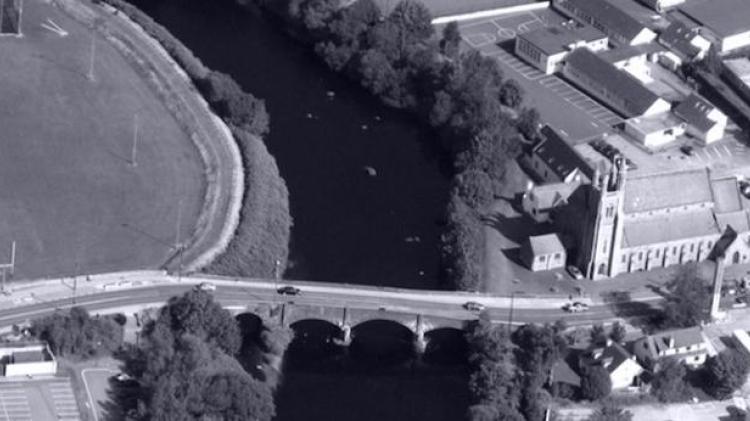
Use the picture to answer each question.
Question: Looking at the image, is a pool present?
No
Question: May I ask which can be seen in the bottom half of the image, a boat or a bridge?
bridge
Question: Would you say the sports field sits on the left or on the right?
left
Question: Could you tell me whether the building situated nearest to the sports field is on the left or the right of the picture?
left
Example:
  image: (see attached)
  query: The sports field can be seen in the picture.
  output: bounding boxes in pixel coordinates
[0,0,195,283]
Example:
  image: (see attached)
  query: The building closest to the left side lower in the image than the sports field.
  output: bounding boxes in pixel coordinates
[0,341,59,376]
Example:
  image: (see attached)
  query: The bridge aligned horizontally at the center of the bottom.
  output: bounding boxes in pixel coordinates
[223,269,501,354]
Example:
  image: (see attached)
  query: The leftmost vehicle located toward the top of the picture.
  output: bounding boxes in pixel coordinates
[676,141,698,154]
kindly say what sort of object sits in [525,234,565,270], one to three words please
house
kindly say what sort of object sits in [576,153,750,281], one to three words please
church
